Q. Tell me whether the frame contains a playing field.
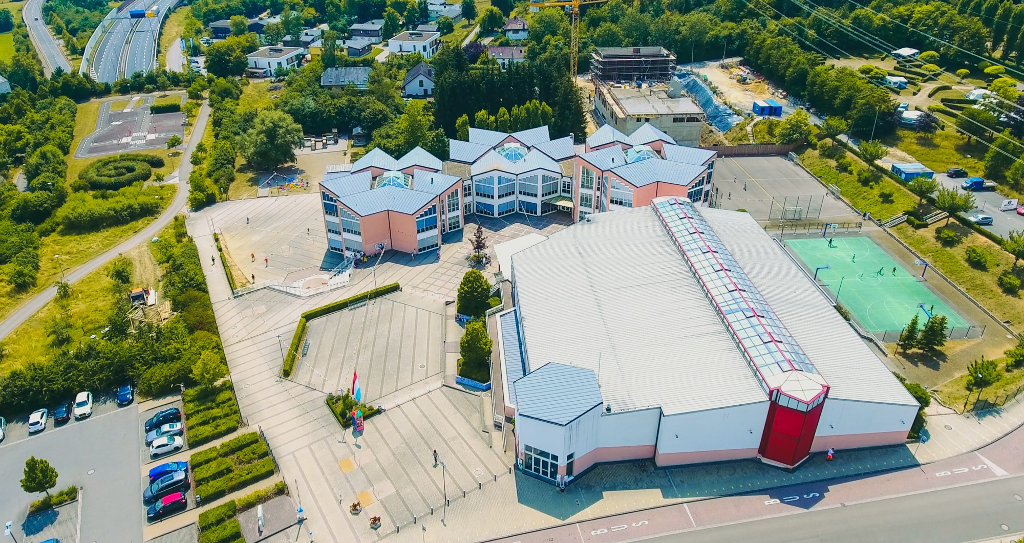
Yes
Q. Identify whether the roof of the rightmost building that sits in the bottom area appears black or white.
white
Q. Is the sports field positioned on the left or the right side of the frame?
right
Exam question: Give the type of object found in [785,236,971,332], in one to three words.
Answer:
sports court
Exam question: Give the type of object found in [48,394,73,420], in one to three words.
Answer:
car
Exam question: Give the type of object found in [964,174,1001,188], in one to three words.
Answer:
vehicle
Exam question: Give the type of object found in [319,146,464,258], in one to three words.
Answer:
building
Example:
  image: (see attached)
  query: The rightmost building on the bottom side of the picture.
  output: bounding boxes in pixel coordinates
[510,195,923,486]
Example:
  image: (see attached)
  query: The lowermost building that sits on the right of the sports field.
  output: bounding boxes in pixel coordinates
[889,163,935,185]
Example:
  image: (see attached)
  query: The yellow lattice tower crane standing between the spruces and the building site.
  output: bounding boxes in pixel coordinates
[531,0,675,71]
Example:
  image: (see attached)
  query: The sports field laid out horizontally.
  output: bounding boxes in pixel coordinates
[710,150,864,217]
